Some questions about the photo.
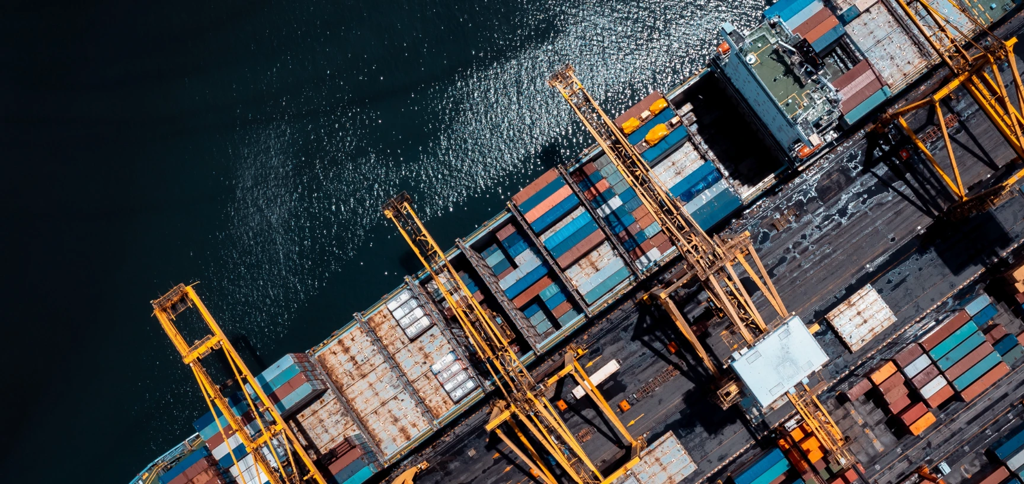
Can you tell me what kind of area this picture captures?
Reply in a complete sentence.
The picture captures a port.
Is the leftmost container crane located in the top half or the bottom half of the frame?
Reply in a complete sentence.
You can find the leftmost container crane in the bottom half.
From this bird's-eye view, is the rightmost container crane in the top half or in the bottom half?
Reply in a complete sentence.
The rightmost container crane is in the top half of the image.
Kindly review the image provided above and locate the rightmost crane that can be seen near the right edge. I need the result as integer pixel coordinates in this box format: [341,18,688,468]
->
[867,0,1024,225]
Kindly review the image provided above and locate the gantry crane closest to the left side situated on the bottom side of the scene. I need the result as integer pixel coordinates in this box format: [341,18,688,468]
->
[147,278,333,484]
